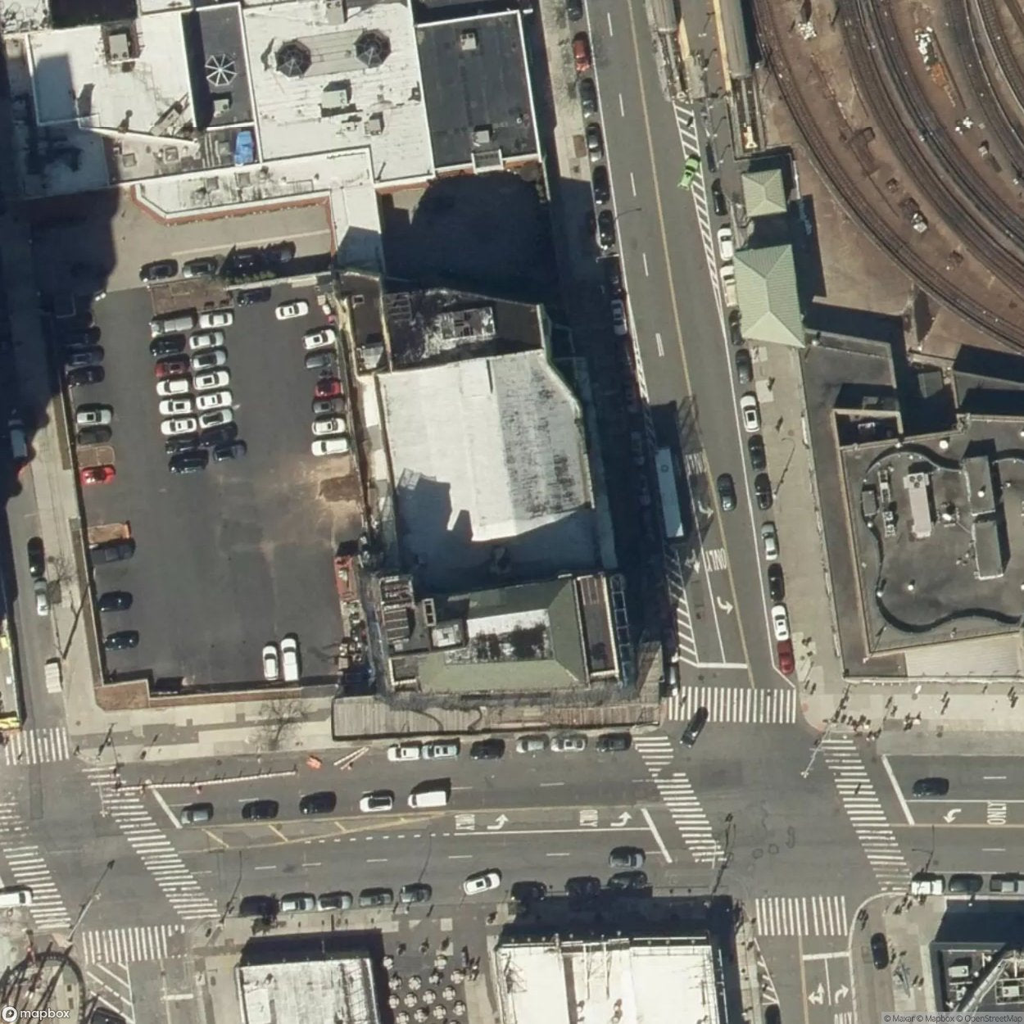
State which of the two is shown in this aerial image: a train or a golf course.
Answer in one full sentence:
I can see a train in this picture.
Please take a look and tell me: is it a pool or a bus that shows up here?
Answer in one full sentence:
Visible in the photo is a bus.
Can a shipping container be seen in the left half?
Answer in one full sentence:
Yes, there is a shipping container in the left half.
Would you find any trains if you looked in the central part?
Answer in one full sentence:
No, no train can be made out in the central part.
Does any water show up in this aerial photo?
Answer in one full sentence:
No, there is no water in the image.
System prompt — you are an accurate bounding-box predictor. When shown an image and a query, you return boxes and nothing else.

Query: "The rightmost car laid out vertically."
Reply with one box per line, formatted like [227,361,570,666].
[870,933,888,970]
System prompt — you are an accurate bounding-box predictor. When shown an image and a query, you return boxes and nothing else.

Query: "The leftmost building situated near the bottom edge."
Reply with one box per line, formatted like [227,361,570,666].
[237,955,380,1024]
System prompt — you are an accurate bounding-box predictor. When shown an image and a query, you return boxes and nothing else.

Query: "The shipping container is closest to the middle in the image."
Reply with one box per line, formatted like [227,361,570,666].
[334,554,359,602]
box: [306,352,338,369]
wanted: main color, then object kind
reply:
gray car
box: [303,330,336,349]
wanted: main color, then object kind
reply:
white car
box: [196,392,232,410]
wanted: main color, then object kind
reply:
white car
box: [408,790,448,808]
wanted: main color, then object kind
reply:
white vehicle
